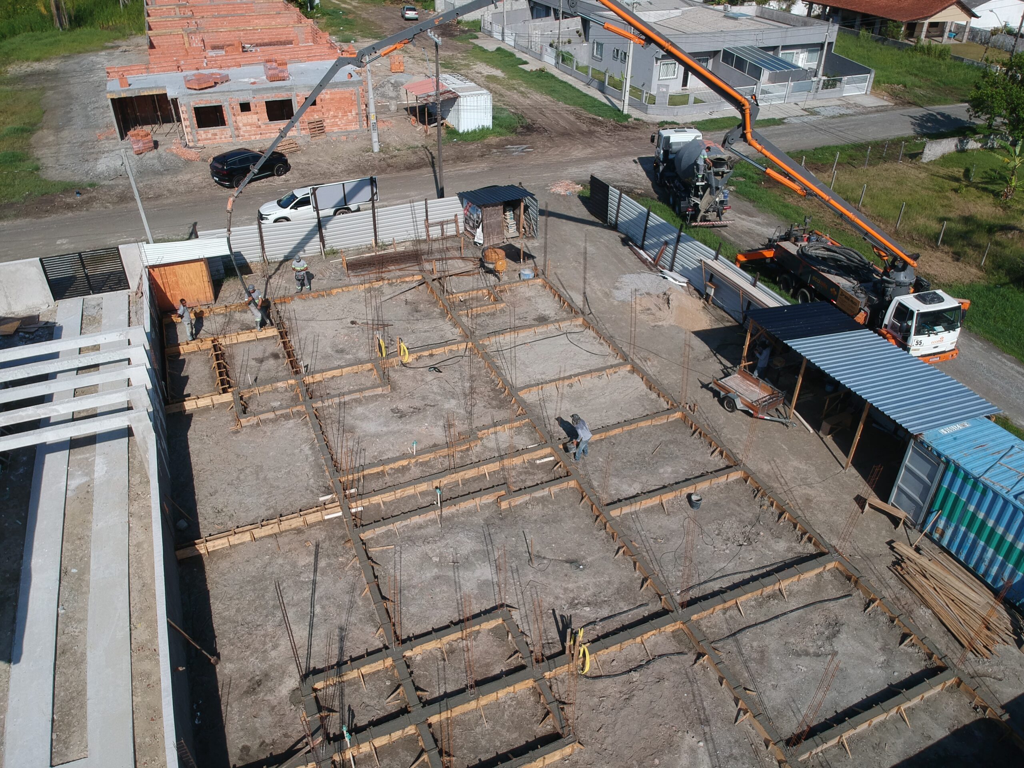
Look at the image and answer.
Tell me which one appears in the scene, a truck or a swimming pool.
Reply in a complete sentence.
Of the two, only a truck appears.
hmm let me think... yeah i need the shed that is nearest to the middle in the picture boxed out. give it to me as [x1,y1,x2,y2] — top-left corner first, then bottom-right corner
[458,184,534,246]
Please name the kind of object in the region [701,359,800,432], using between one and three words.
trailer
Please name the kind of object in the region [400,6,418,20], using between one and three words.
car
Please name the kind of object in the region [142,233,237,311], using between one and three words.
shed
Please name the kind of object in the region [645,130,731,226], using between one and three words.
truck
